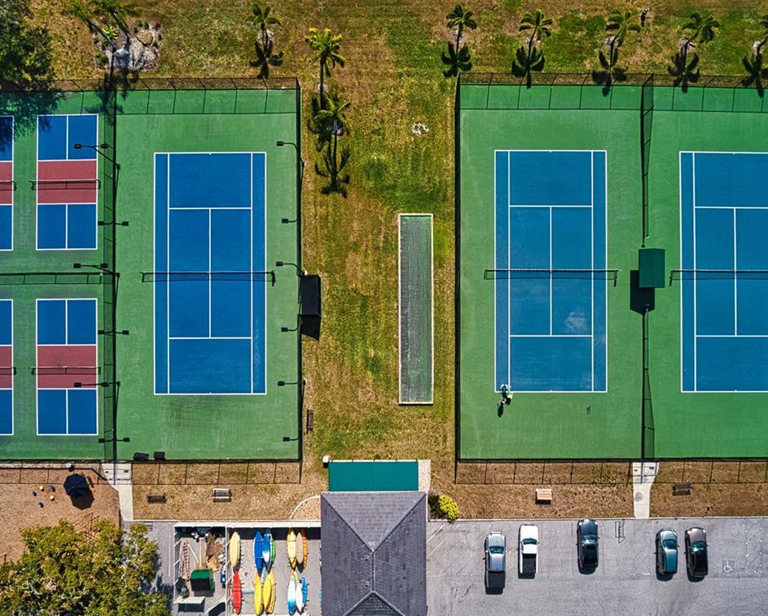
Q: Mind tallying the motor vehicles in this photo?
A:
5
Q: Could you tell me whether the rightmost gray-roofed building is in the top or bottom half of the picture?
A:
bottom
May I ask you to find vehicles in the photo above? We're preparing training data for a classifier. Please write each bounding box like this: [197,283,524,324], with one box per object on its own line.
[574,517,598,568]
[683,525,708,576]
[484,527,506,586]
[518,521,540,573]
[653,525,678,573]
